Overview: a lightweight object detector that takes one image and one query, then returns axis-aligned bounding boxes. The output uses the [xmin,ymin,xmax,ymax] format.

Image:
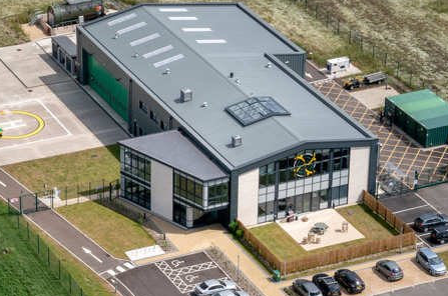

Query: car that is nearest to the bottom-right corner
[413,244,448,273]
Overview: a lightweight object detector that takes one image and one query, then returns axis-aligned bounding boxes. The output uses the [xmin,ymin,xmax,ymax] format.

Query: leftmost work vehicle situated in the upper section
[342,67,367,89]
